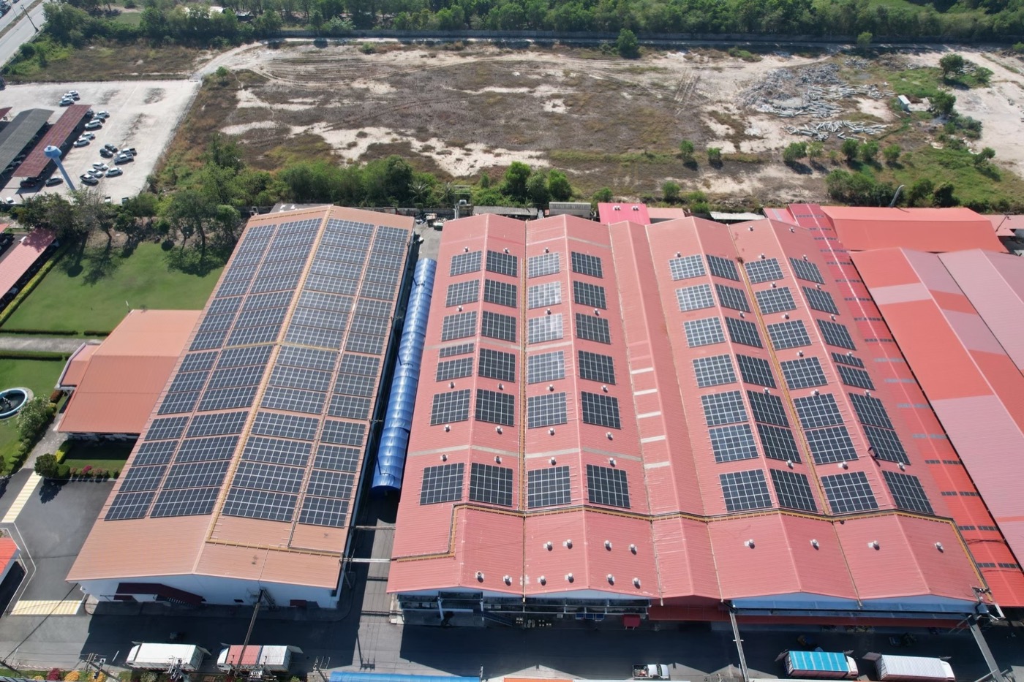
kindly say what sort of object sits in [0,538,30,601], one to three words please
building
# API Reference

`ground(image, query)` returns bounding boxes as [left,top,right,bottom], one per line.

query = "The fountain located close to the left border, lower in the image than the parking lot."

[0,379,41,428]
